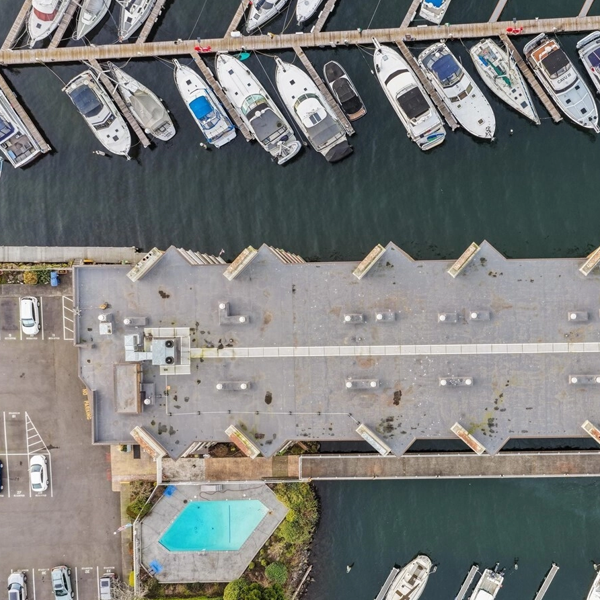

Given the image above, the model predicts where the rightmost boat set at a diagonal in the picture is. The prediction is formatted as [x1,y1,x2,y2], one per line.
[574,30,600,50]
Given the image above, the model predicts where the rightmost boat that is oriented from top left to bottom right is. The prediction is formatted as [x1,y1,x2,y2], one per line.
[522,38,599,133]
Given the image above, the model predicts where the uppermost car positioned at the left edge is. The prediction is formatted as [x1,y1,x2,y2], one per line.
[18,297,39,333]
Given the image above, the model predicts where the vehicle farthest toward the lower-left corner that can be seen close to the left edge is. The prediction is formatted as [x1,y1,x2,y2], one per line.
[6,573,28,600]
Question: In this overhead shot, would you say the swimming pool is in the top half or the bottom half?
bottom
